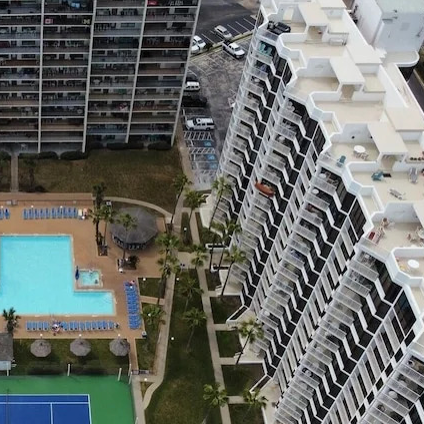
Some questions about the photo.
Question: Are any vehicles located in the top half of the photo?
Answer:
Yes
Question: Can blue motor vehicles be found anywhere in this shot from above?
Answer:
No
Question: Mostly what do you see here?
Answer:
buildings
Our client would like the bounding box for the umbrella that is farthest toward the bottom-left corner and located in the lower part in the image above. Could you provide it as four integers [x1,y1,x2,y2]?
[28,336,53,357]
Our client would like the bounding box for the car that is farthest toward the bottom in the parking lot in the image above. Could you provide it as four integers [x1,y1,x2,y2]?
[185,117,216,131]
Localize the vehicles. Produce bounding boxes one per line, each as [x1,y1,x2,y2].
[194,36,208,50]
[186,80,200,93]
[185,117,216,131]
[183,96,204,107]
[221,40,245,60]
[213,23,233,41]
